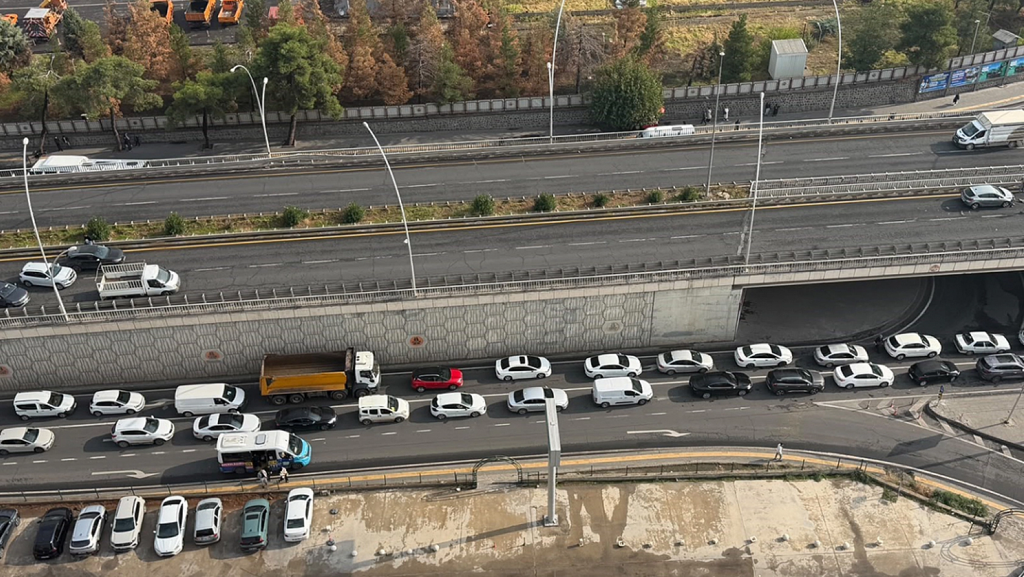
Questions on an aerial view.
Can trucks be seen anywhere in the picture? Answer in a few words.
Yes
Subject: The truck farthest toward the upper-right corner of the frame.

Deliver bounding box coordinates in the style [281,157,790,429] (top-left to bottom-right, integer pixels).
[956,106,1024,151]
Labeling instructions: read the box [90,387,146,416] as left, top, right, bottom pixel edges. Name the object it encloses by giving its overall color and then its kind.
white car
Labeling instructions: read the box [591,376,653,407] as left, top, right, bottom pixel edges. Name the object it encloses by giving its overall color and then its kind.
white van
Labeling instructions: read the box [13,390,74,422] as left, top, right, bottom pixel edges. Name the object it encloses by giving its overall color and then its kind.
white van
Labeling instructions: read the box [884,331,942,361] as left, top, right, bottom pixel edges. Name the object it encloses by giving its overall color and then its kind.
white car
